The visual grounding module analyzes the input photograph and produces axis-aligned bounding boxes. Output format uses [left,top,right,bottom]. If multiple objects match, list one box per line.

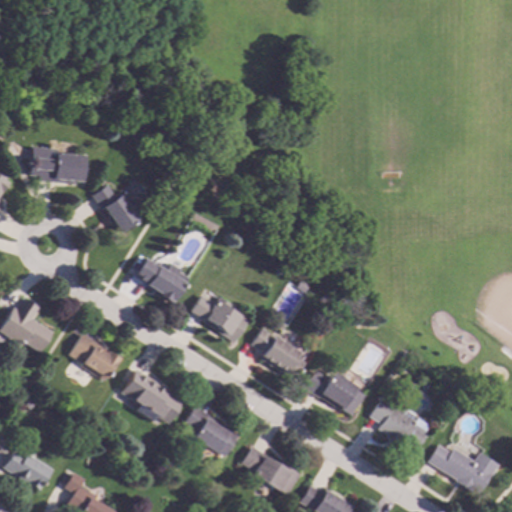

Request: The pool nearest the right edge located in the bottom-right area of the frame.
[452,413,482,458]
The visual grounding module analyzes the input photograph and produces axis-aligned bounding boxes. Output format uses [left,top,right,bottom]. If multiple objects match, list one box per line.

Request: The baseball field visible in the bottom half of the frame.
[476,272,512,349]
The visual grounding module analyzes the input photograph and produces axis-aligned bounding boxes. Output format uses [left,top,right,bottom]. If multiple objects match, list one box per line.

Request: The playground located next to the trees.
[431,310,480,364]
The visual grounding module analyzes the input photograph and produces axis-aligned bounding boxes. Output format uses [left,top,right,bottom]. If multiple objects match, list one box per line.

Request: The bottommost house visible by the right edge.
[428,442,502,491]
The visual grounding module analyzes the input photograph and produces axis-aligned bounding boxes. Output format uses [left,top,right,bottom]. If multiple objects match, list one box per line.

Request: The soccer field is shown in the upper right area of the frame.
[330,0,512,258]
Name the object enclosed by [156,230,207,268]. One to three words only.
swimming pool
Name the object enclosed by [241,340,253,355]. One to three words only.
vehicle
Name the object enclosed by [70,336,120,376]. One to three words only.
house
